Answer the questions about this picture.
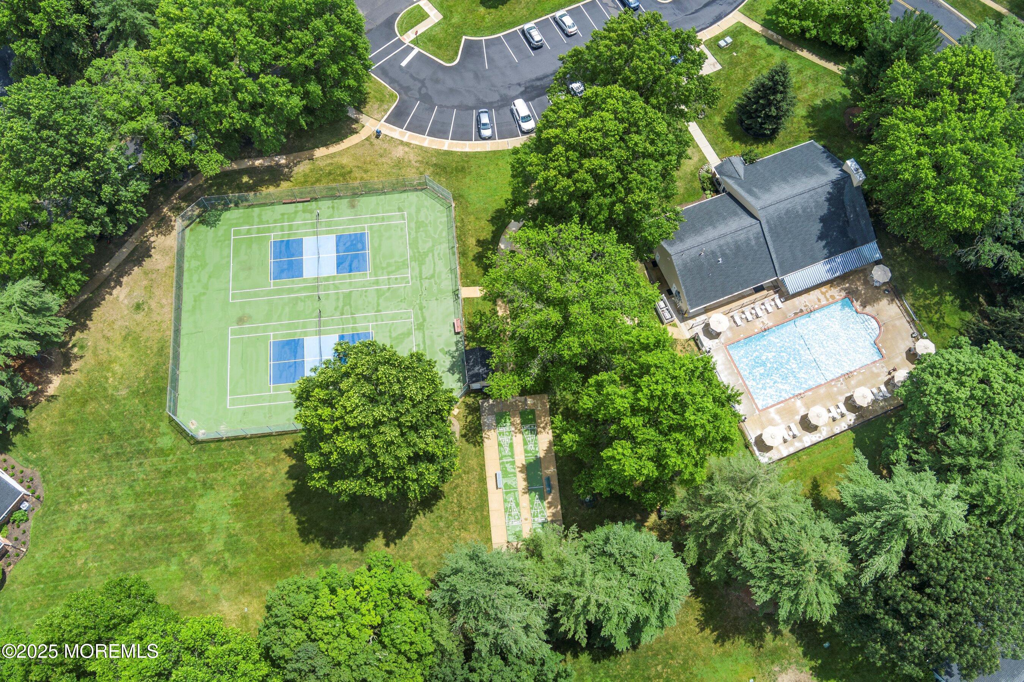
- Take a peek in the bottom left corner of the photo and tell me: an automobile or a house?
house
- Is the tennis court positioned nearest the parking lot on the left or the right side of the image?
left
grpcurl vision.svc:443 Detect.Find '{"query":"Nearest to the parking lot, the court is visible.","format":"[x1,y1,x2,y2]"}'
[230,212,410,302]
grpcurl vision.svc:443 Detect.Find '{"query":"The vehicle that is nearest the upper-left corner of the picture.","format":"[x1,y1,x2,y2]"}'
[477,109,493,139]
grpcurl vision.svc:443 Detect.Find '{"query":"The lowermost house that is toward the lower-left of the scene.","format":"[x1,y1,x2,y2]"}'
[0,532,38,566]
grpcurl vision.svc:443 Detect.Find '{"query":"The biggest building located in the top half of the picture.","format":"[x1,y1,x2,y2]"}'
[644,141,877,314]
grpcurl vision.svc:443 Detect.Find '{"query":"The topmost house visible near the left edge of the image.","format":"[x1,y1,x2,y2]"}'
[0,471,47,529]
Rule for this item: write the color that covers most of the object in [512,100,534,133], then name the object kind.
white car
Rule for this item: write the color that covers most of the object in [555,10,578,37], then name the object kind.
white car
